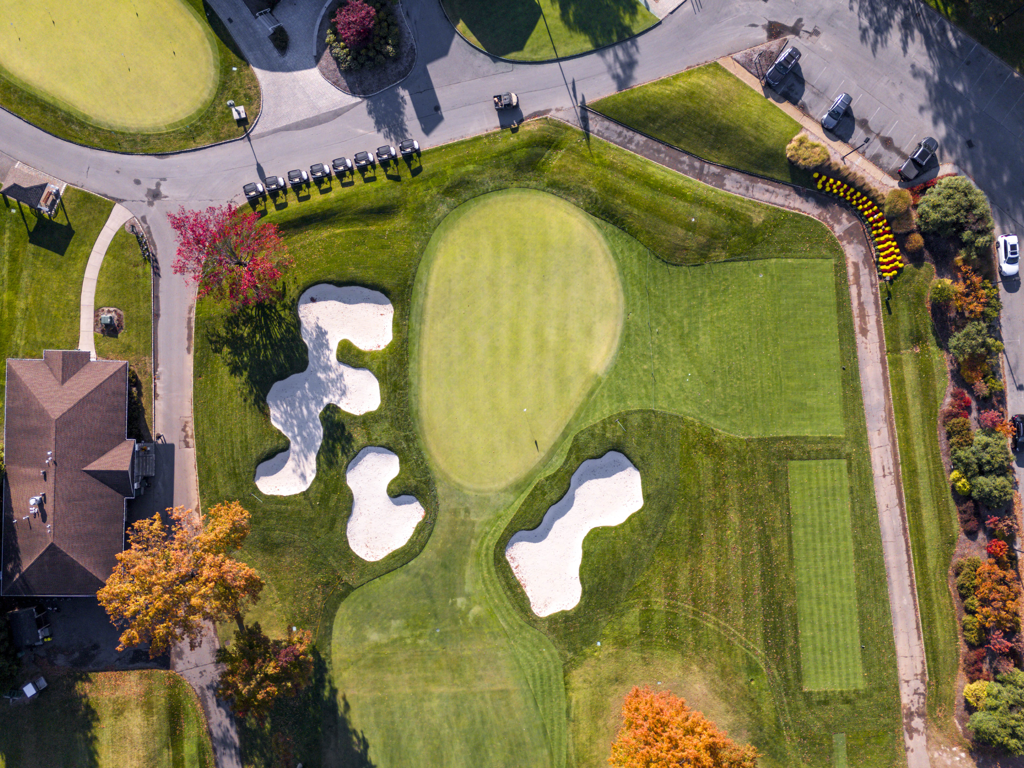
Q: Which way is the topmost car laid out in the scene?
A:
at an angle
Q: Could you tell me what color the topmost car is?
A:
black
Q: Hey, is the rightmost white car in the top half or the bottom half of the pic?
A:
top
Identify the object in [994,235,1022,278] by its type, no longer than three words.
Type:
car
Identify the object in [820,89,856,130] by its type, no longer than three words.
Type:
car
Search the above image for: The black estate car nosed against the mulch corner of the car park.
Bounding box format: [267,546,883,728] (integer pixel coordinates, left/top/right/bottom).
[764,43,804,86]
